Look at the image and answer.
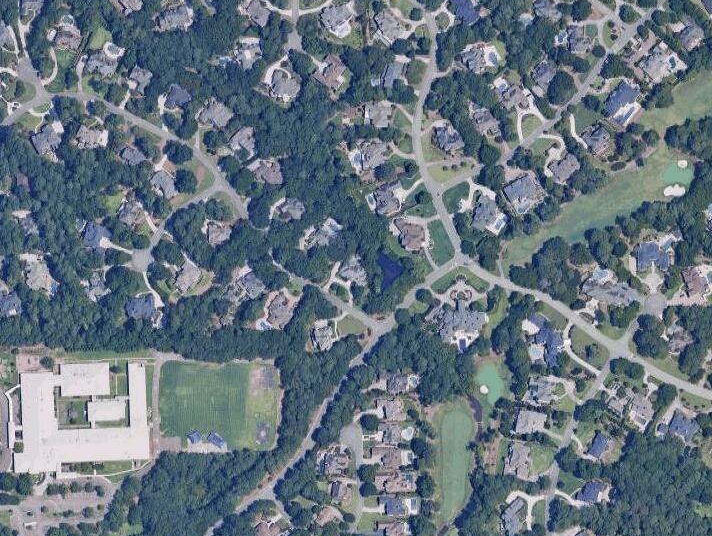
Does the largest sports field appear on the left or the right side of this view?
left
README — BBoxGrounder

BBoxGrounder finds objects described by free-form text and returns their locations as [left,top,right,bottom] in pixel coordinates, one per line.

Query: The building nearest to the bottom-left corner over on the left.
[6,363,150,478]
